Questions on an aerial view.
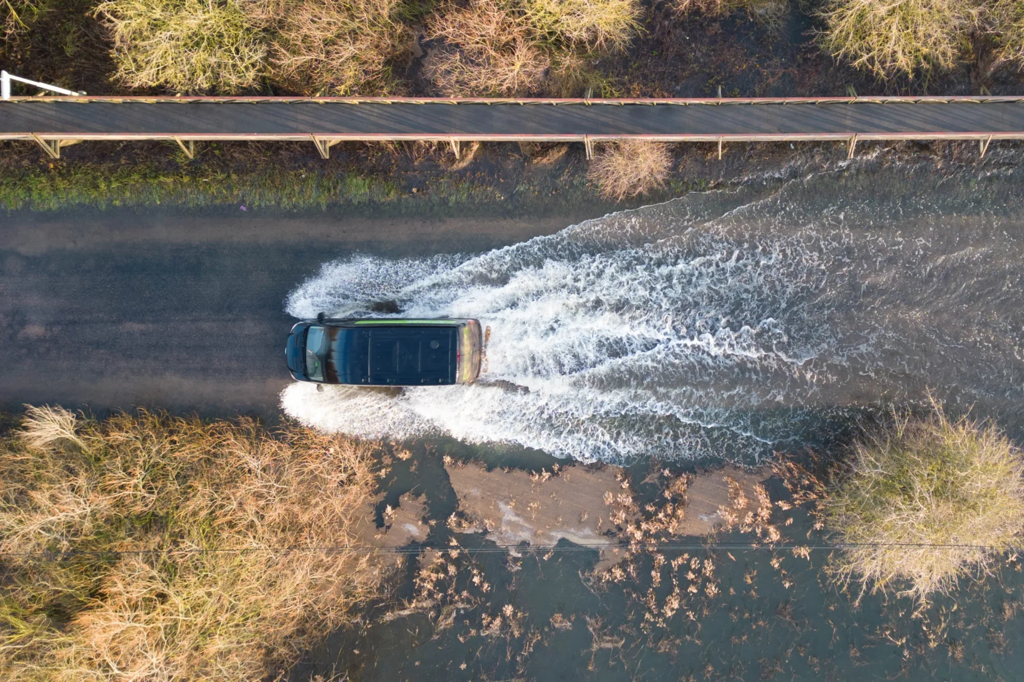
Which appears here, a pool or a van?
van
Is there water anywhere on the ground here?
Yes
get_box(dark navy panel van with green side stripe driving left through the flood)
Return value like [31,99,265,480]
[280,309,494,396]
